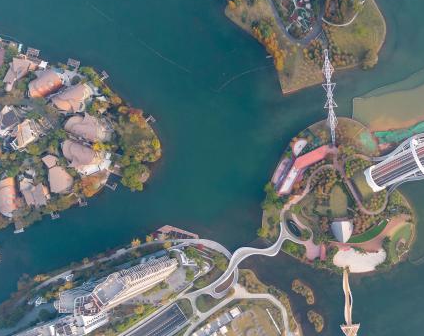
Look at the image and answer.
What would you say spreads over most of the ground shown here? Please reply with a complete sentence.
The scene is dominated by water.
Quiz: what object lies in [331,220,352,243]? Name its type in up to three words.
building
